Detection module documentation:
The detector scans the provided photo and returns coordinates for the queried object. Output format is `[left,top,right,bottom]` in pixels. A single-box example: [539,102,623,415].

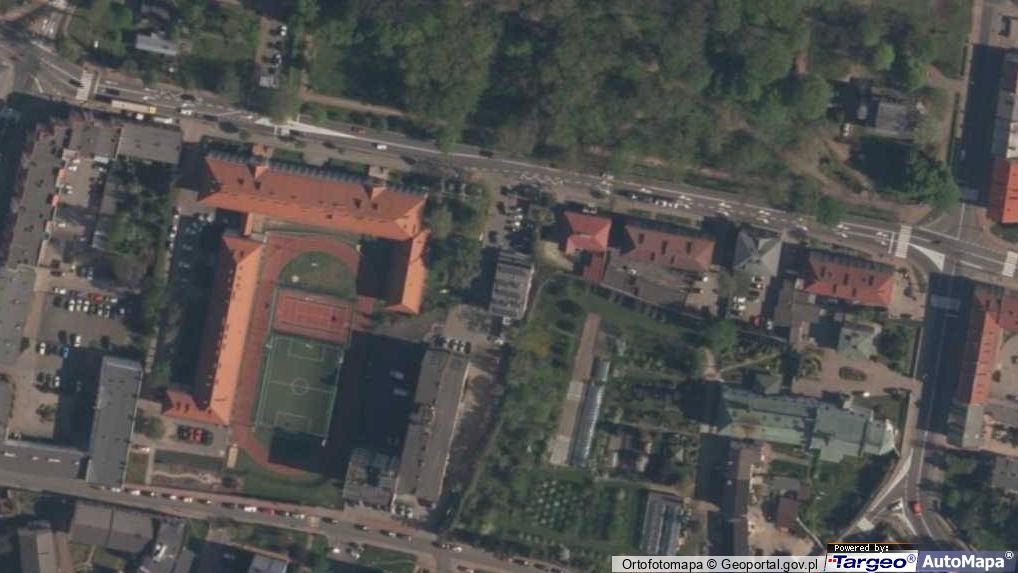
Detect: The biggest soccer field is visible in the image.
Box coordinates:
[254,334,345,439]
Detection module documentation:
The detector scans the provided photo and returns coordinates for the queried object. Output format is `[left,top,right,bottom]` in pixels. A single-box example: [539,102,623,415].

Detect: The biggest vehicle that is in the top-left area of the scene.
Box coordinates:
[110,99,157,114]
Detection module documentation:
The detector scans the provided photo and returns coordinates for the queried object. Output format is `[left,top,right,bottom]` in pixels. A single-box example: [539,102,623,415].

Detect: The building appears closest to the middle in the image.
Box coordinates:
[489,254,533,320]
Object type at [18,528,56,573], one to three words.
house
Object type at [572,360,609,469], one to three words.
greenhouse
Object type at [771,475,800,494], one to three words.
shed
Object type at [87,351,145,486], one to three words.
building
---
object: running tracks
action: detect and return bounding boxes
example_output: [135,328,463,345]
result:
[230,235,376,478]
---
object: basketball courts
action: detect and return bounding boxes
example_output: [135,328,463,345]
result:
[273,288,352,344]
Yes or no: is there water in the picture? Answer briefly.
No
